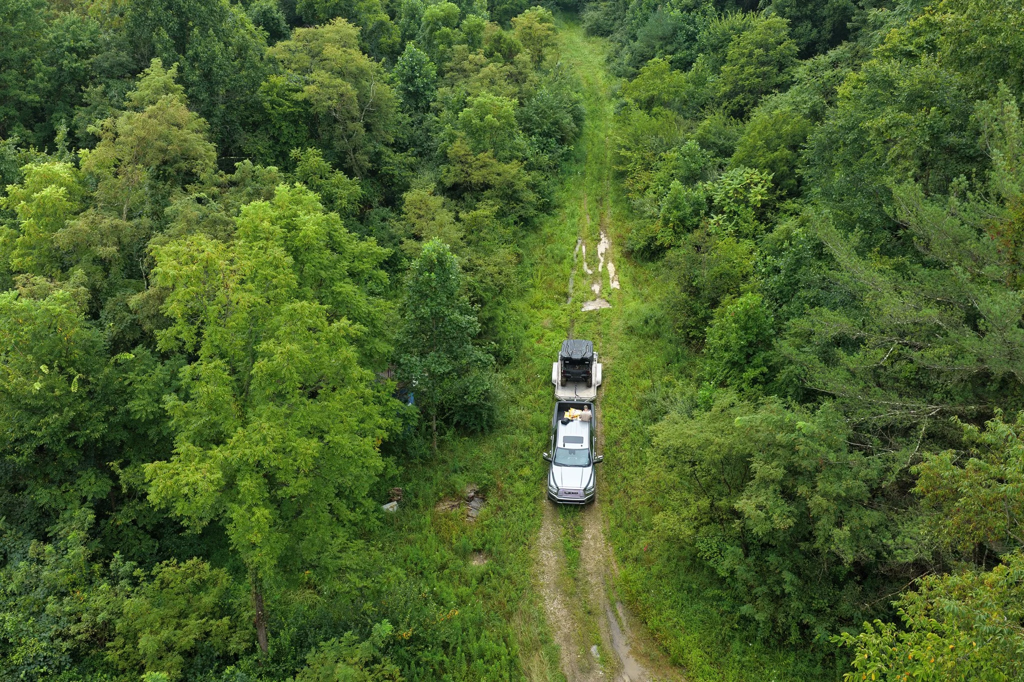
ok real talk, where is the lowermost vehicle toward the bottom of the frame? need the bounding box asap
[541,403,604,504]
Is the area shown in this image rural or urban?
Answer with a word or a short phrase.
rural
